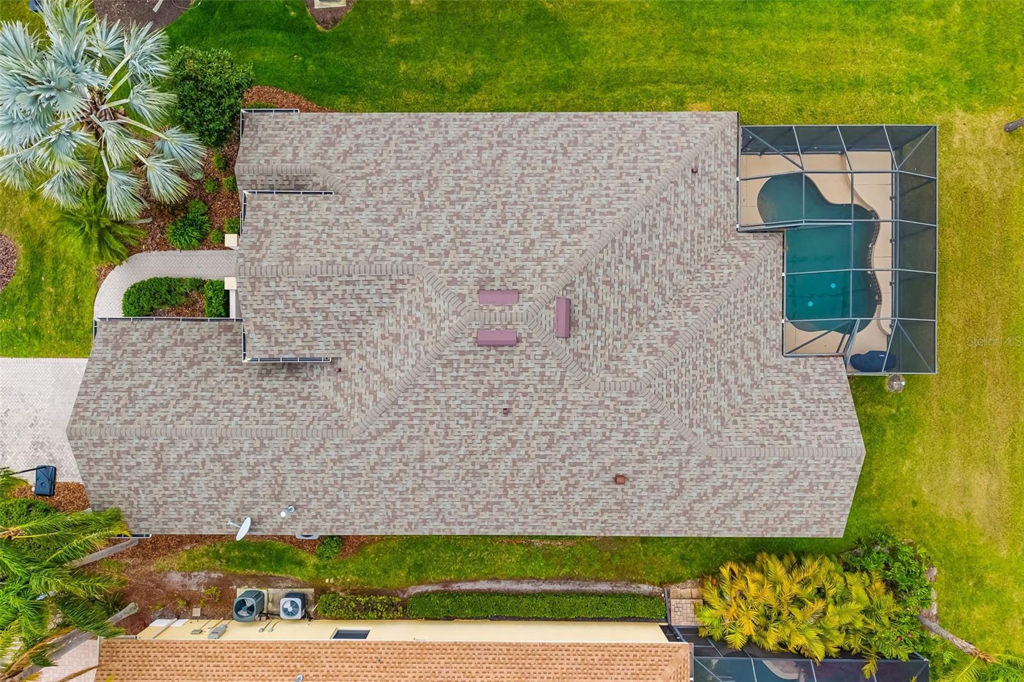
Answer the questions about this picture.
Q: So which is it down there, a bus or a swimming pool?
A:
swimming pool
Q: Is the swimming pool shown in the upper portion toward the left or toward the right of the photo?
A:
right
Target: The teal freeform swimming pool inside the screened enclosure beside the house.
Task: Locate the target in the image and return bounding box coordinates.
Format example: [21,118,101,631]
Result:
[758,172,882,334]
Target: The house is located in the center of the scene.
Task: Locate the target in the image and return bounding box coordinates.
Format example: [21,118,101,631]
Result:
[67,108,864,539]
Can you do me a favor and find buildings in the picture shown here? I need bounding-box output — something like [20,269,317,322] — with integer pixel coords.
[67,108,864,539]
[89,617,699,682]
